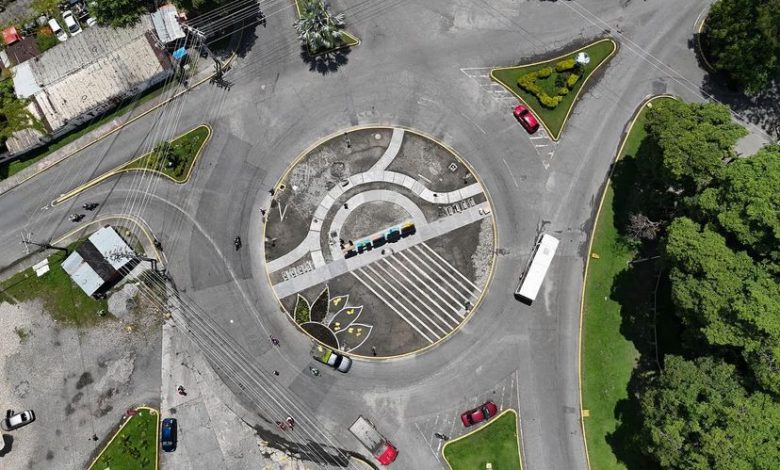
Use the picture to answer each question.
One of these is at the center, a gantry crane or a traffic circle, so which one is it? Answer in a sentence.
The feature located at the center is a traffic circle.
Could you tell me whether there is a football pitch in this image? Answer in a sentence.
No, there is no football pitch in the image.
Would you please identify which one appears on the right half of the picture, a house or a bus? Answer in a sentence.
You can see a bus on the right half of the picture.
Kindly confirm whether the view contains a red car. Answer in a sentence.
Yes, the frame does contain a red car.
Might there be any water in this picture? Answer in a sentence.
No, the scene doesn't show any water.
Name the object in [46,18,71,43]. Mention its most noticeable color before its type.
white car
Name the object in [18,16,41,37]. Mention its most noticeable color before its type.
gray car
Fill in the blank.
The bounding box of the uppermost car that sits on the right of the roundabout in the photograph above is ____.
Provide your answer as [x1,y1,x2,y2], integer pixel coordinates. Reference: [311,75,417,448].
[512,107,541,133]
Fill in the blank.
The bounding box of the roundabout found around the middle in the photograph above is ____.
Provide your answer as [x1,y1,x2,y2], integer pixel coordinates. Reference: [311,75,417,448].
[261,123,498,360]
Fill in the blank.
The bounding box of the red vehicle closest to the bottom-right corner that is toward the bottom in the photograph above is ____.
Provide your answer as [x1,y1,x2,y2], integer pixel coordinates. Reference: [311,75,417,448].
[461,401,497,427]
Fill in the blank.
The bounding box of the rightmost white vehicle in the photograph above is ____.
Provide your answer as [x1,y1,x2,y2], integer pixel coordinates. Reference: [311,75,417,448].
[516,232,560,301]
